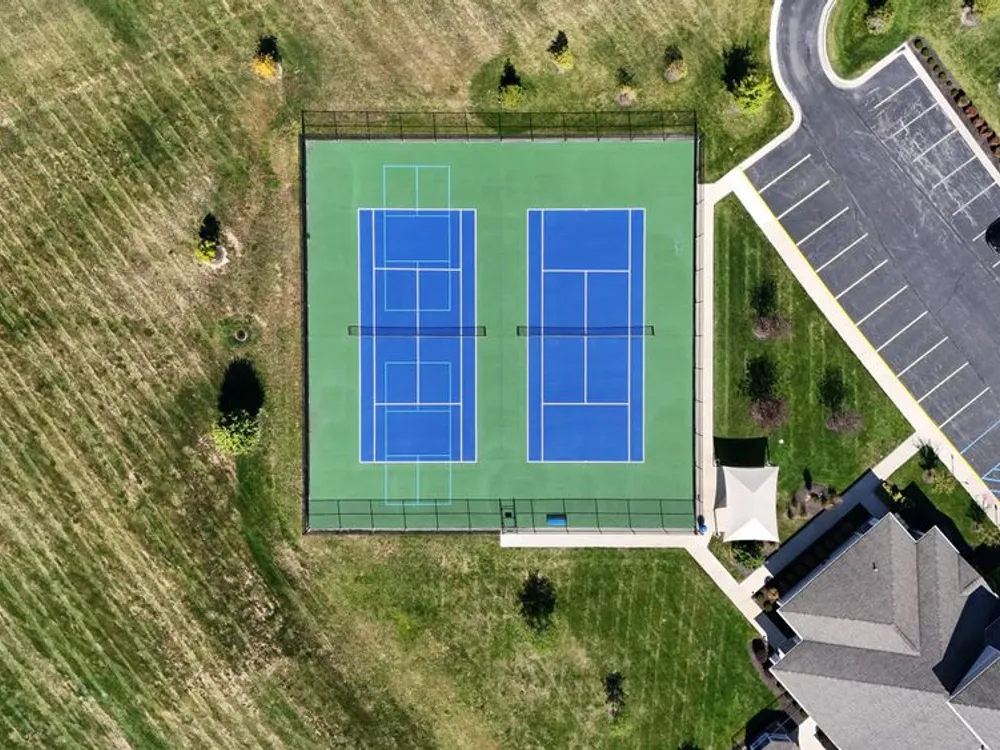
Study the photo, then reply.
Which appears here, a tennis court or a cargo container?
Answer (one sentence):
Of the two, only a tennis court appears.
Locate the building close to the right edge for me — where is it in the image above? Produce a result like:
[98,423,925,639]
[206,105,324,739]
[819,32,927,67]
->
[765,512,1000,750]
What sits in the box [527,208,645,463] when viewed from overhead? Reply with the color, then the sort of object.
blue tennis court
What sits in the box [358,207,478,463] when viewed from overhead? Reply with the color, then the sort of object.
blue tennis court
